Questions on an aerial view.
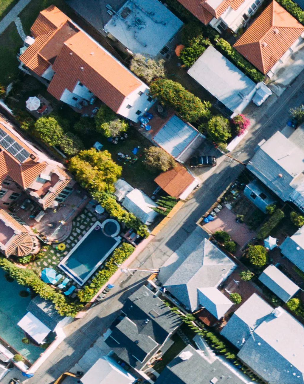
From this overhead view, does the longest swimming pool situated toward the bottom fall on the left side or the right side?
left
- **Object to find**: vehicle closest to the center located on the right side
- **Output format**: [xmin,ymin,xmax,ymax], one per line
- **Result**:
[179,154,216,169]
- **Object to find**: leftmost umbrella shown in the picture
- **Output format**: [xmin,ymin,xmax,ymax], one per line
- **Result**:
[27,98,41,112]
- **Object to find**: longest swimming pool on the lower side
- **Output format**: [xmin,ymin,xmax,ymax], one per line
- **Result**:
[58,221,122,286]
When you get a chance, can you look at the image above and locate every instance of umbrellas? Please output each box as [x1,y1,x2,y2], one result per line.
[264,237,277,249]
[41,268,58,284]
[27,98,41,112]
